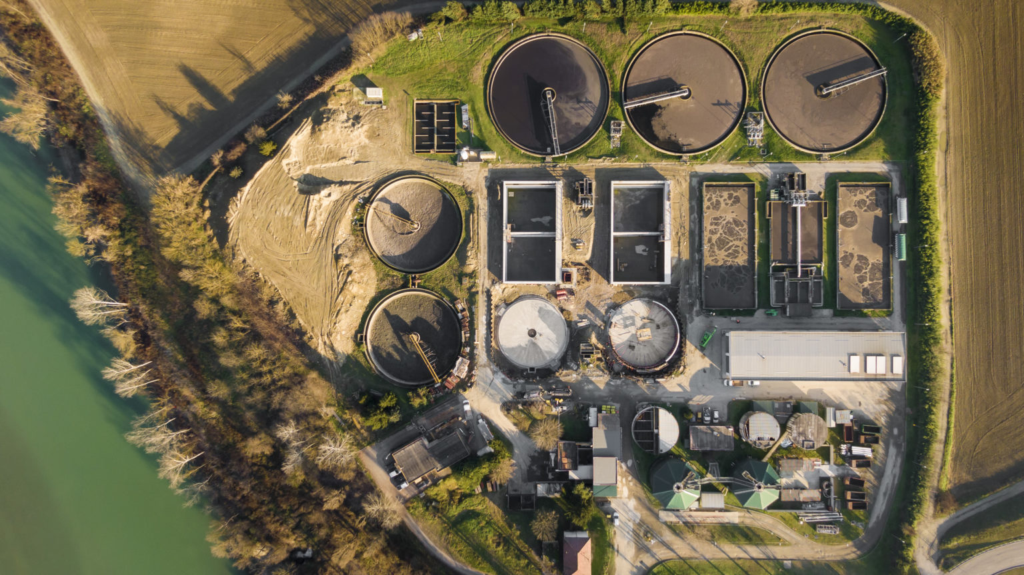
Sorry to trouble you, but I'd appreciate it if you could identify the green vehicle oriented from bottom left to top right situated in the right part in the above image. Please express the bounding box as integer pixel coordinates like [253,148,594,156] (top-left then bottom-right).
[699,326,719,349]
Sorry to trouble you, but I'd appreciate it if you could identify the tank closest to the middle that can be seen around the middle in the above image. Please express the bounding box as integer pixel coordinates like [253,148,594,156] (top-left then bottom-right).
[496,296,569,373]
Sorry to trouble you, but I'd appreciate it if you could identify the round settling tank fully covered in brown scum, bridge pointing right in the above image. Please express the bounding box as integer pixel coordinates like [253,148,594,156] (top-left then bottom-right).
[761,27,889,159]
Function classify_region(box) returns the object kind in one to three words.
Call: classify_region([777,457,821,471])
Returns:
shed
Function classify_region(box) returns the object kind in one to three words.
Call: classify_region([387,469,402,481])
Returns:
vehicle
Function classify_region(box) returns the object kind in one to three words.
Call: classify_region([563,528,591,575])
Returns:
house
